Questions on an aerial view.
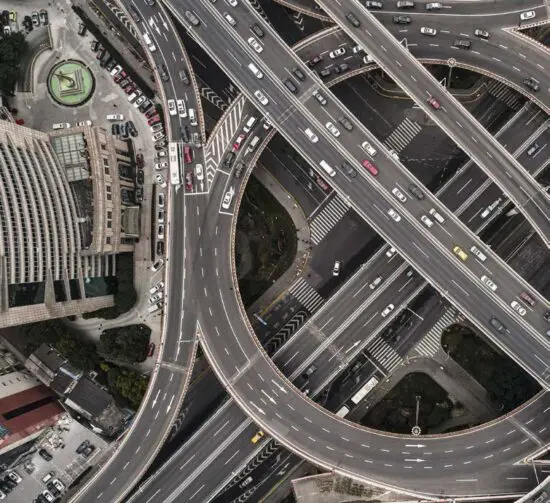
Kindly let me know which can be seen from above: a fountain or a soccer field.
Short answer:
fountain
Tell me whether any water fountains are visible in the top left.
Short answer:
Yes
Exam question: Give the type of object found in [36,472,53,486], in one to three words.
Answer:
vehicle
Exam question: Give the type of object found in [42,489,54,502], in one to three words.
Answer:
vehicle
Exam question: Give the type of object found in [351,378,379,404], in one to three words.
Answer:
bus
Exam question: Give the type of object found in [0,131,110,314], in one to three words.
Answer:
building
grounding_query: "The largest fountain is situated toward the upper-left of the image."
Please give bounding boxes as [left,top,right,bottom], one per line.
[46,58,93,106]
